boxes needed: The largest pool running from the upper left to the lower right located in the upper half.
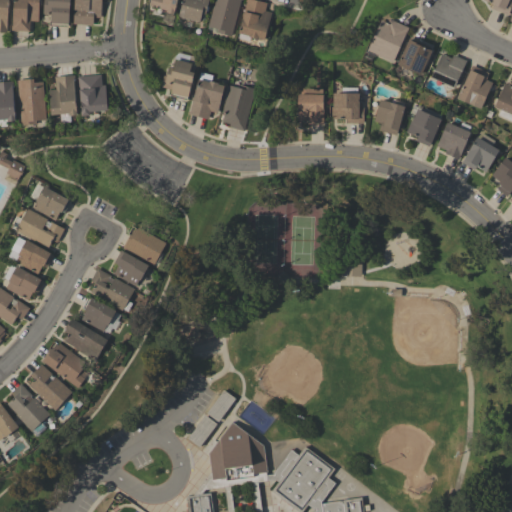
[426,79,447,97]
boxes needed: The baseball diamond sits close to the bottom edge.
[378,424,436,499]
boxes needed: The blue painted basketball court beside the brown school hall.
[240,402,275,434]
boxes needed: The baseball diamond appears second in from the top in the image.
[252,344,323,404]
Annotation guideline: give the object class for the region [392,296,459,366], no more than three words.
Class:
baseball field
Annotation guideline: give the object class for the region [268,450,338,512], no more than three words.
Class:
building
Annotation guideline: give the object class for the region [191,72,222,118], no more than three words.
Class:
house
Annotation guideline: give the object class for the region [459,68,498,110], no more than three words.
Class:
house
